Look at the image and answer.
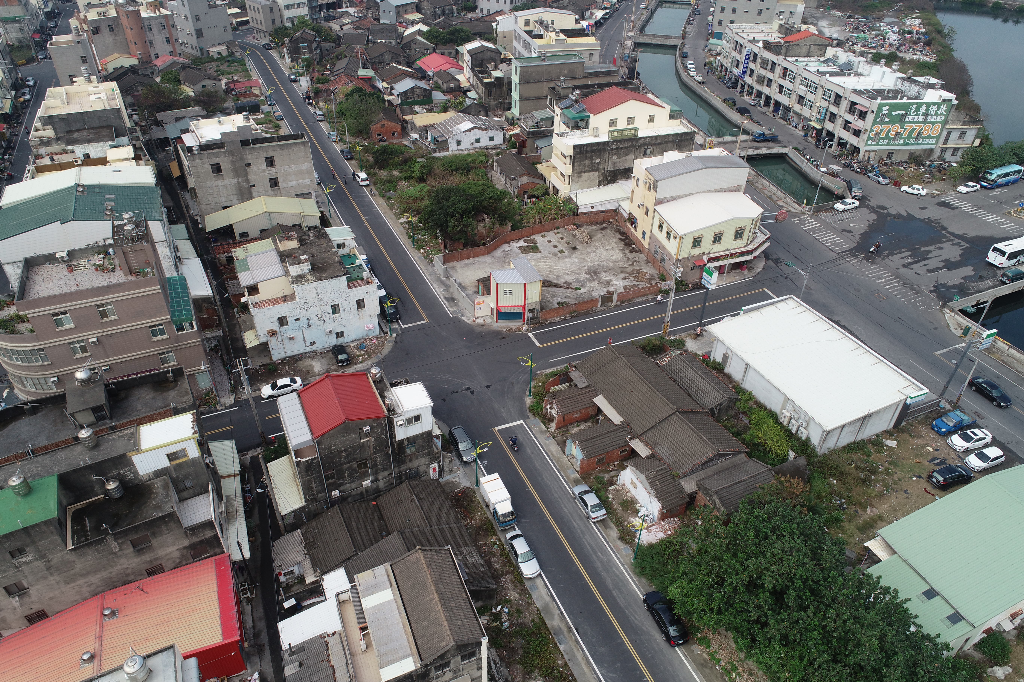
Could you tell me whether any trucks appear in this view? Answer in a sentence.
Yes, the image includes a truck.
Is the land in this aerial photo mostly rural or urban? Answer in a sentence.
The land in this view is best described as urban.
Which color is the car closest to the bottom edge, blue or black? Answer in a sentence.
In this view, the car closest to the bottom edge is black.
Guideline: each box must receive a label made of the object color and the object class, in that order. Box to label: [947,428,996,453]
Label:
white car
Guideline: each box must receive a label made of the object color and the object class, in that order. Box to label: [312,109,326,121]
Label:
gray vehicle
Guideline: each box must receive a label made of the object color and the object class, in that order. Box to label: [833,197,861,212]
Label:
white car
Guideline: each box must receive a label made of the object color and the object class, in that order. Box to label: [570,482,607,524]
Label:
gray car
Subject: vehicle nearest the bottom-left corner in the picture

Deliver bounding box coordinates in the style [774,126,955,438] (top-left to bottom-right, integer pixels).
[259,377,304,402]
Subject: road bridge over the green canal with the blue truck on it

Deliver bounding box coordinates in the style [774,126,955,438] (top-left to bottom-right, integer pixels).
[704,131,790,159]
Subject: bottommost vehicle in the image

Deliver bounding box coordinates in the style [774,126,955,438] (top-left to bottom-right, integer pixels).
[643,592,689,647]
